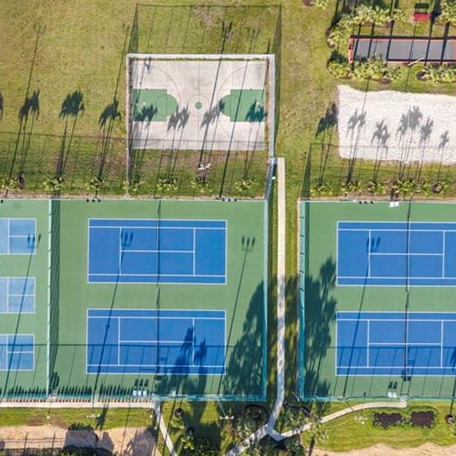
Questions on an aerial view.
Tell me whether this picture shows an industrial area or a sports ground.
sports ground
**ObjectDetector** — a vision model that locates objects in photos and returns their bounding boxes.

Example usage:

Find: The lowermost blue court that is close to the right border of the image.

[336,306,456,383]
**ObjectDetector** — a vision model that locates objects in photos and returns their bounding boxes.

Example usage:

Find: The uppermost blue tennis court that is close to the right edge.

[337,216,456,292]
